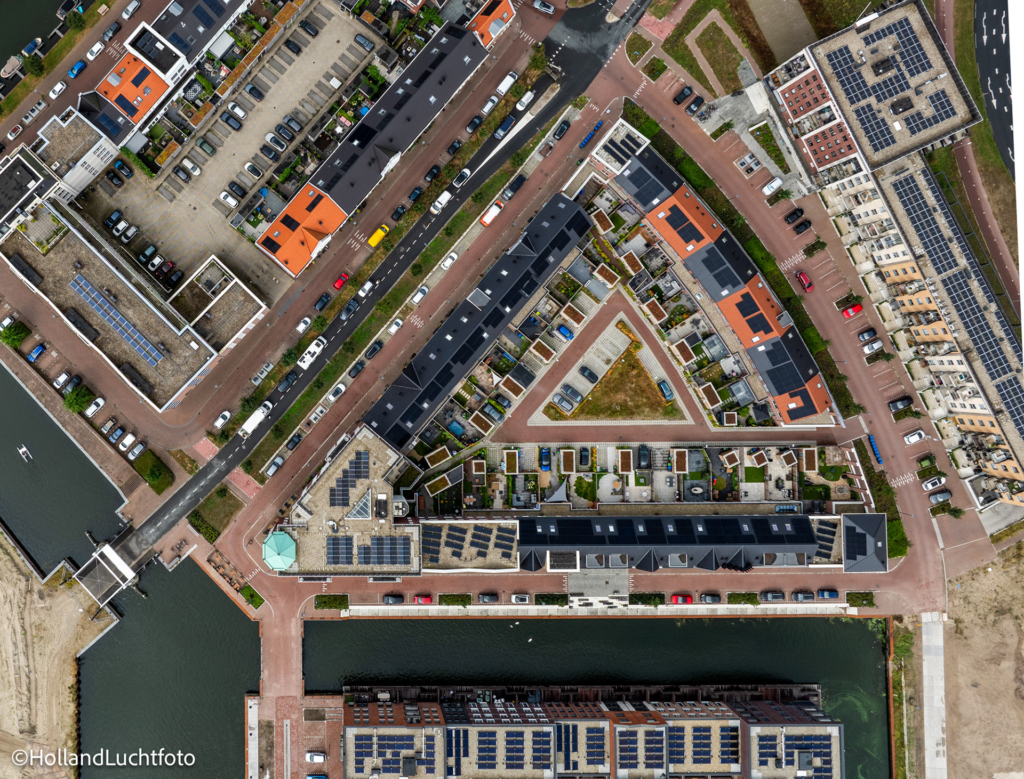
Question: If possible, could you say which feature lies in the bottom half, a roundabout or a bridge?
bridge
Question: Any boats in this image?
Yes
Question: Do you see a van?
Yes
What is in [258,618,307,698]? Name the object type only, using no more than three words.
bridge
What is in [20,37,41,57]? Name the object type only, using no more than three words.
boat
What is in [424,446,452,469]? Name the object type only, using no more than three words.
shed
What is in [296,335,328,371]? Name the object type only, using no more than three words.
van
